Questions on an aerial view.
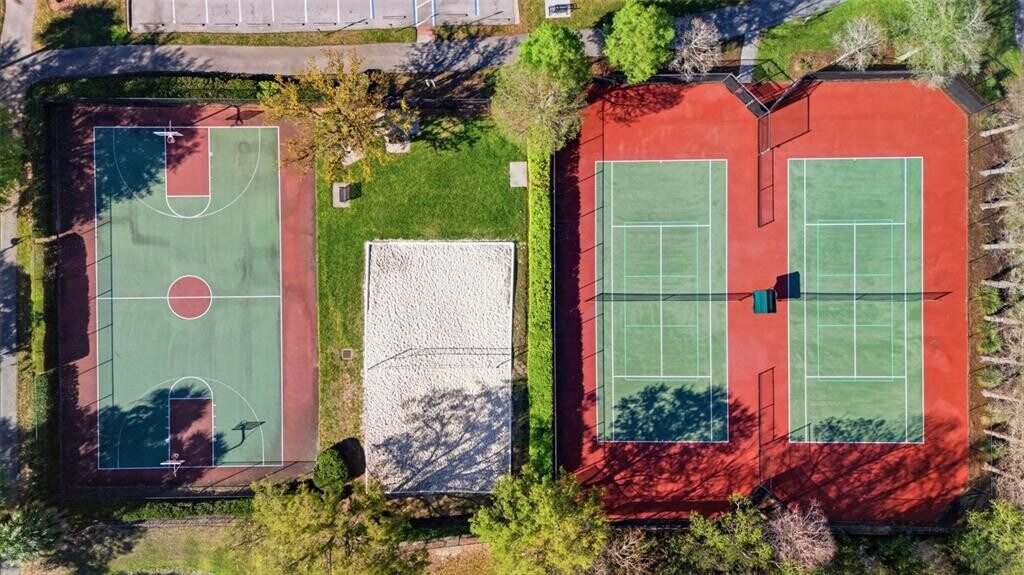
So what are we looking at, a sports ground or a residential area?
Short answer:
sports ground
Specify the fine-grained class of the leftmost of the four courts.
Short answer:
basketball court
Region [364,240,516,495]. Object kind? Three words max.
sports court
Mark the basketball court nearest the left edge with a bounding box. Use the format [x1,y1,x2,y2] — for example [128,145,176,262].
[59,105,319,488]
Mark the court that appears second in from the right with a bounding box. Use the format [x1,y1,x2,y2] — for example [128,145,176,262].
[555,82,761,523]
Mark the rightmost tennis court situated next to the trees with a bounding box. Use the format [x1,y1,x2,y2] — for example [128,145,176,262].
[758,80,970,523]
